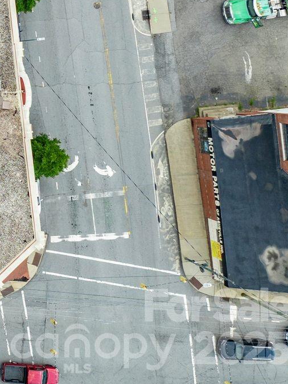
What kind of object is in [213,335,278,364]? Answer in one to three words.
van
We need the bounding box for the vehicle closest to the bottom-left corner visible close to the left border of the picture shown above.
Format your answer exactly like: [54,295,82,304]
[0,360,59,384]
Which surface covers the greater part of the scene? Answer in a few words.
paved ground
